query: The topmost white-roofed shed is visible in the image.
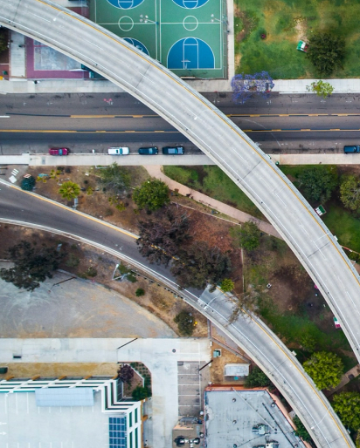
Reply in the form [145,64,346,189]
[224,363,253,376]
